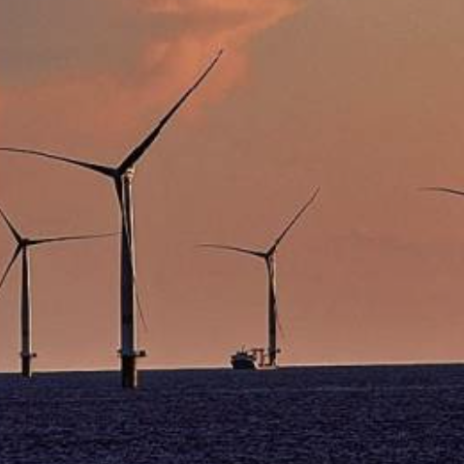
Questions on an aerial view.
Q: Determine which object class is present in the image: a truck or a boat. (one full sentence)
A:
This aerial view contains a boat.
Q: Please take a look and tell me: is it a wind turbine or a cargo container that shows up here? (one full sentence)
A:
Of the two, only a wind turbine appears.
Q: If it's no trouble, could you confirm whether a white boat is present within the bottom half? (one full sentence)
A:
No, I see no white boat within the bottom half.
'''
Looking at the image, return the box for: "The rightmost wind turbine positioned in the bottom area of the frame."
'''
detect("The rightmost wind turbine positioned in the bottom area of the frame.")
[203,189,319,369]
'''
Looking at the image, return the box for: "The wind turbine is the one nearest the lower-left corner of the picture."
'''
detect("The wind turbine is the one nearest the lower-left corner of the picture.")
[0,204,115,375]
